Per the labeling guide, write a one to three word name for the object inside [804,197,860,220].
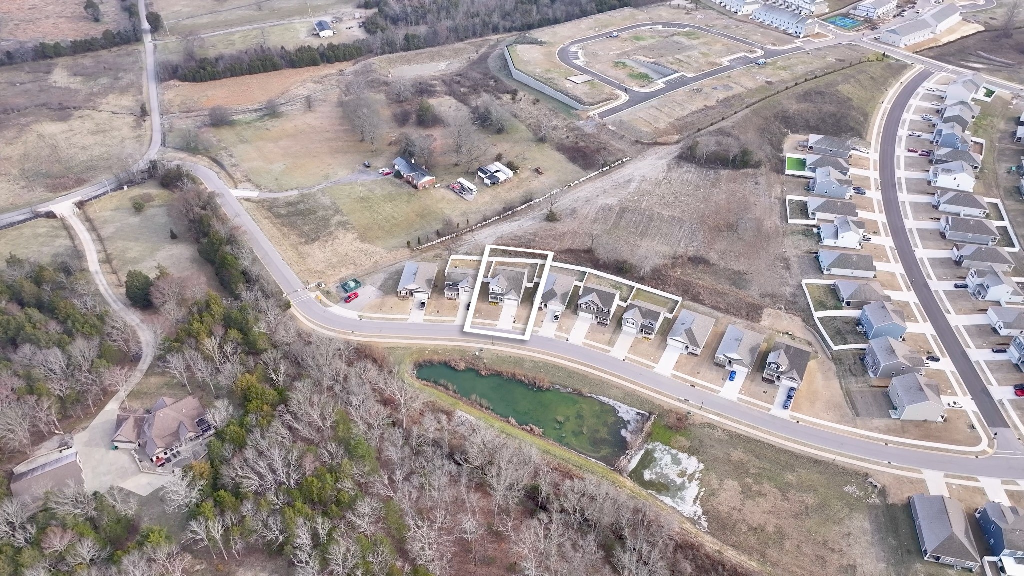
house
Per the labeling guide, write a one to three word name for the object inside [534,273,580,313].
house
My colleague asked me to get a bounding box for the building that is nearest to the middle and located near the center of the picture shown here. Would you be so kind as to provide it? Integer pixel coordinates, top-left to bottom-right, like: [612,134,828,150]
[488,266,529,307]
